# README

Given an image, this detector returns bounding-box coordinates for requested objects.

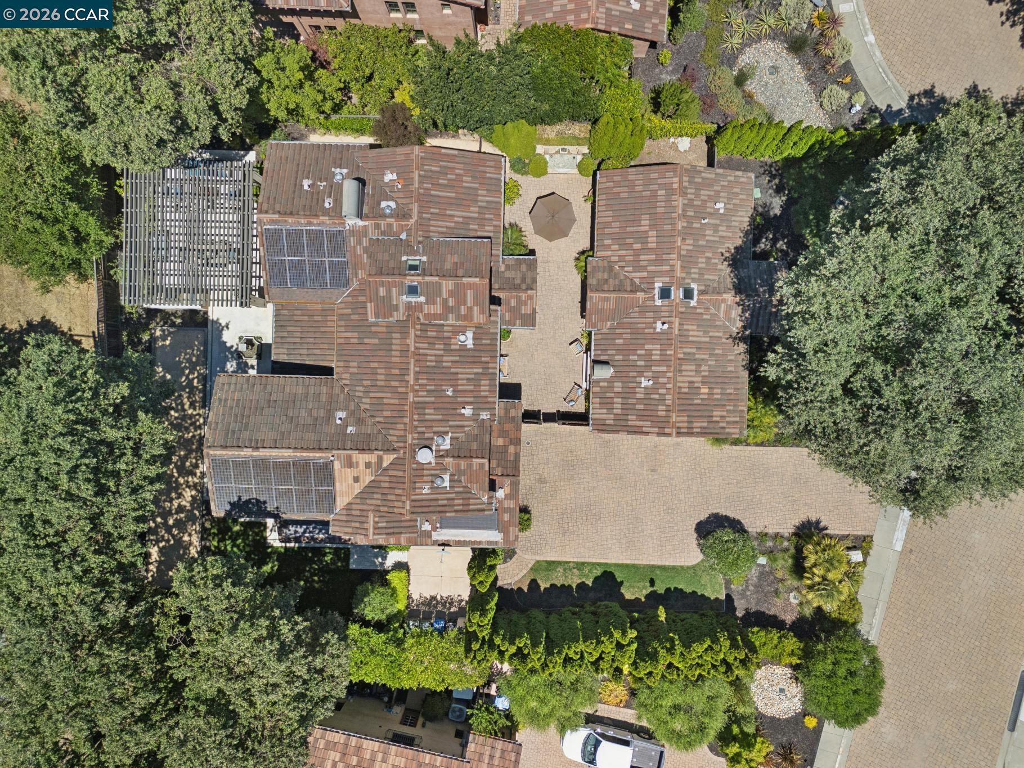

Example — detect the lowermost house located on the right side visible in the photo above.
[582,161,787,440]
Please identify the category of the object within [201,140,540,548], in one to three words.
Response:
house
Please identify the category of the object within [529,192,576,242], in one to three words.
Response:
umbrella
